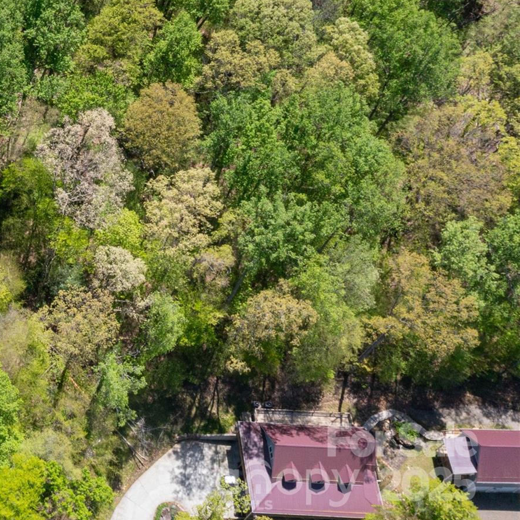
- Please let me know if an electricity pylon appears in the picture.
No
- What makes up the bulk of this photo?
trees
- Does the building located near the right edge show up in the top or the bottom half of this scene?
bottom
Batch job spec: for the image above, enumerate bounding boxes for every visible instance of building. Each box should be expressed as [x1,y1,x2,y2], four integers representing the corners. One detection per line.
[230,407,386,520]
[416,428,520,492]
